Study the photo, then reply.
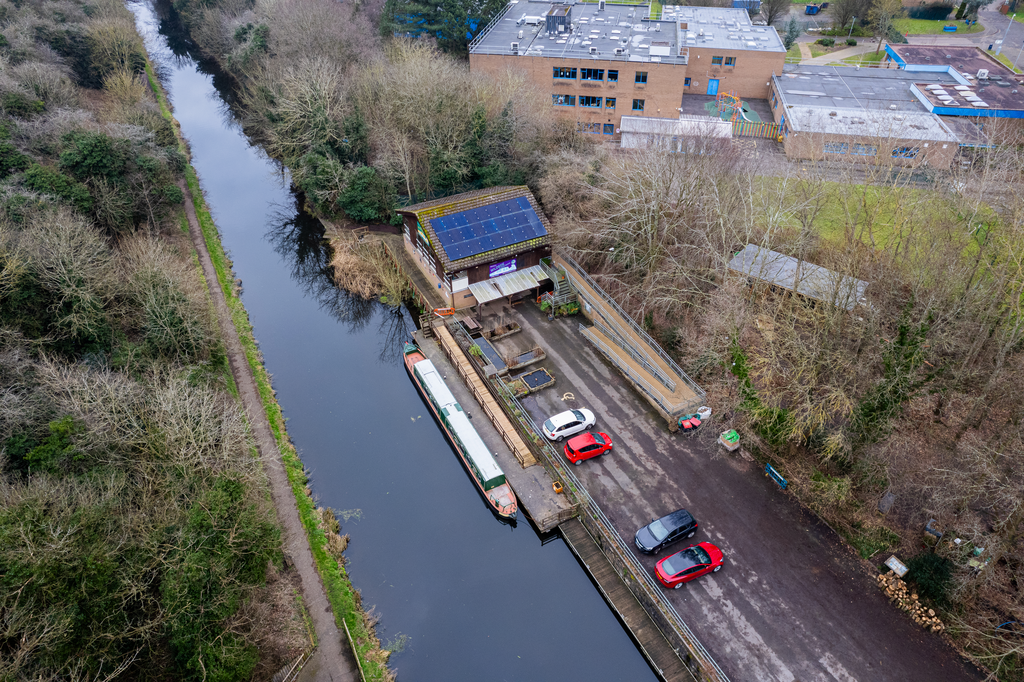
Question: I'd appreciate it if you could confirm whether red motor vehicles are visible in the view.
Yes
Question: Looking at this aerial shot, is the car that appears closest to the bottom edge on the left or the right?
right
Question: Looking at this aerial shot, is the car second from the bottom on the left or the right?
right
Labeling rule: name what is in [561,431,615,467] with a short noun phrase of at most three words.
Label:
car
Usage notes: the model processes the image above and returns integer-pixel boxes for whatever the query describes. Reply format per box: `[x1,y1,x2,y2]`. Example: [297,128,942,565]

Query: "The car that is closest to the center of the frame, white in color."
[541,408,599,442]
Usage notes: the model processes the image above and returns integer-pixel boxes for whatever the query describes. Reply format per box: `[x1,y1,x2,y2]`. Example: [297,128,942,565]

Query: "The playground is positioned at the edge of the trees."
[680,92,776,126]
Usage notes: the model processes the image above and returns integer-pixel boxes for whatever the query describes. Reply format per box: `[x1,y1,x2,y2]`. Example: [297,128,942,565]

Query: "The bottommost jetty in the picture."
[555,520,695,682]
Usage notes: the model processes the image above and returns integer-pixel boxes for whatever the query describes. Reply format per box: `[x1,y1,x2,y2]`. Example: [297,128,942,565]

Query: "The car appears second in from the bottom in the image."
[632,507,702,557]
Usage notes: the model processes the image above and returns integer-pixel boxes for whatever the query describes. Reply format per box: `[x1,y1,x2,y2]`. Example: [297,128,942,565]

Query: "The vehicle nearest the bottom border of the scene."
[653,540,730,593]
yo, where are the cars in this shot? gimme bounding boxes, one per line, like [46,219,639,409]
[653,540,730,593]
[541,408,599,442]
[632,507,702,557]
[561,431,615,467]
